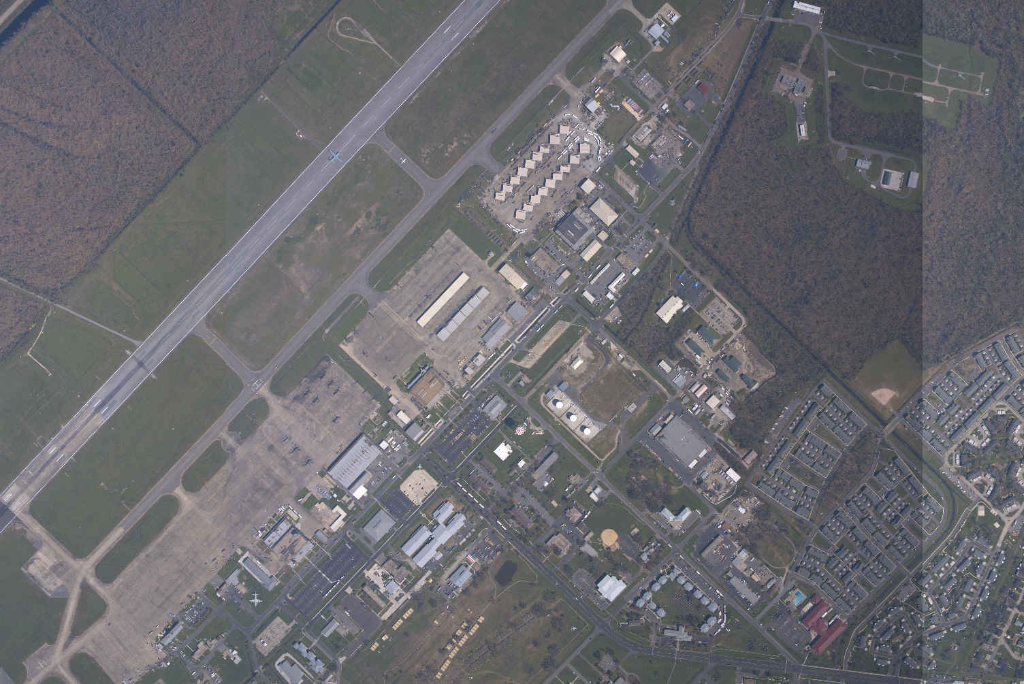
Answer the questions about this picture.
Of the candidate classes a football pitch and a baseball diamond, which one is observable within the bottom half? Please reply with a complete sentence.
It is a baseball diamond that can be seen within the bottom half.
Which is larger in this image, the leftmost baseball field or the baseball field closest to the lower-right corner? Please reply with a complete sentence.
The baseball field closest to the lower-right corner takes up more space than the leftmost baseball field.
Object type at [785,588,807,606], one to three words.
swimming pool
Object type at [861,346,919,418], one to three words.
baseball field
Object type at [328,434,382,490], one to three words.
hangar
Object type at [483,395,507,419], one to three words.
building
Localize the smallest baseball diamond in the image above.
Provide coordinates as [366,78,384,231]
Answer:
[588,510,632,550]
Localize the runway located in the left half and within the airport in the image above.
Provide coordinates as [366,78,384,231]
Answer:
[0,0,501,515]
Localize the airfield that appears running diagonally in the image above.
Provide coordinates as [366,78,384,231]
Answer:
[0,0,680,684]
